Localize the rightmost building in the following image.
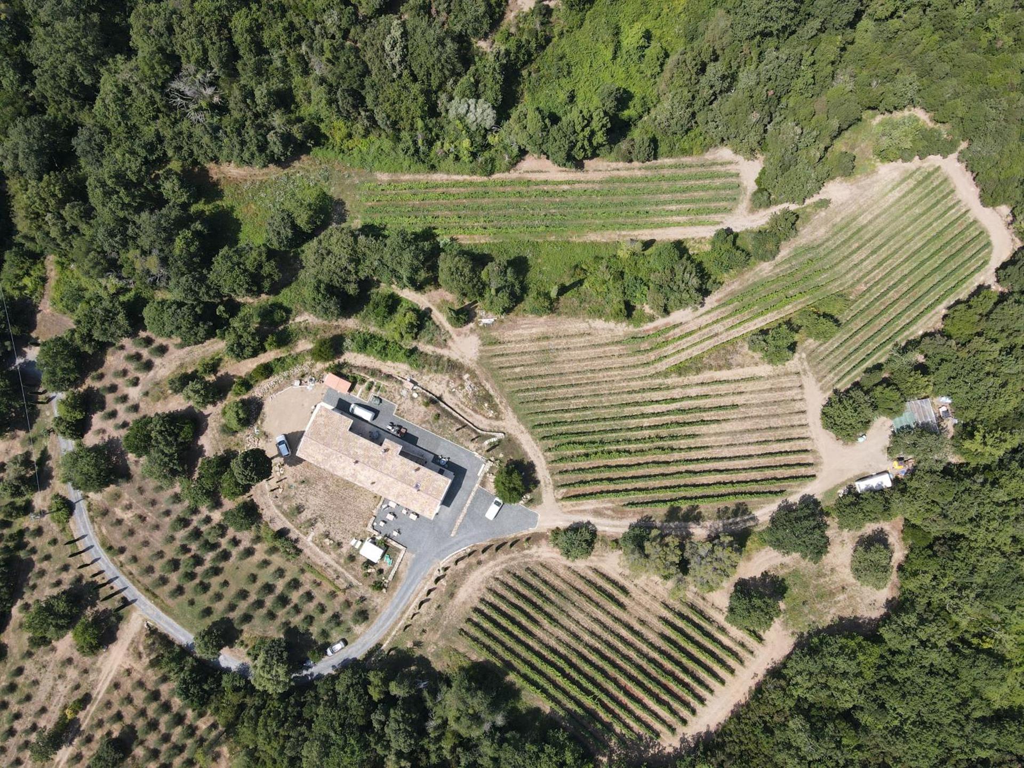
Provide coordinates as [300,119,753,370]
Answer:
[888,398,940,433]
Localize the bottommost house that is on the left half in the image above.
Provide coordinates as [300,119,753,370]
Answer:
[299,404,455,516]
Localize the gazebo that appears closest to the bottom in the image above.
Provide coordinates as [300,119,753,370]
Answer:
[360,539,385,562]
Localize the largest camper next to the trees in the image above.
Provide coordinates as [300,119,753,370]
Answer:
[848,472,890,493]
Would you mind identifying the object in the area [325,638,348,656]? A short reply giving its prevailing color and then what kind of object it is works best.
white car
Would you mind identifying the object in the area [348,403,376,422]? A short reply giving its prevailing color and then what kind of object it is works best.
white vehicle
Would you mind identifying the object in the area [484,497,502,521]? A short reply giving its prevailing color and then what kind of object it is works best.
white vehicle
